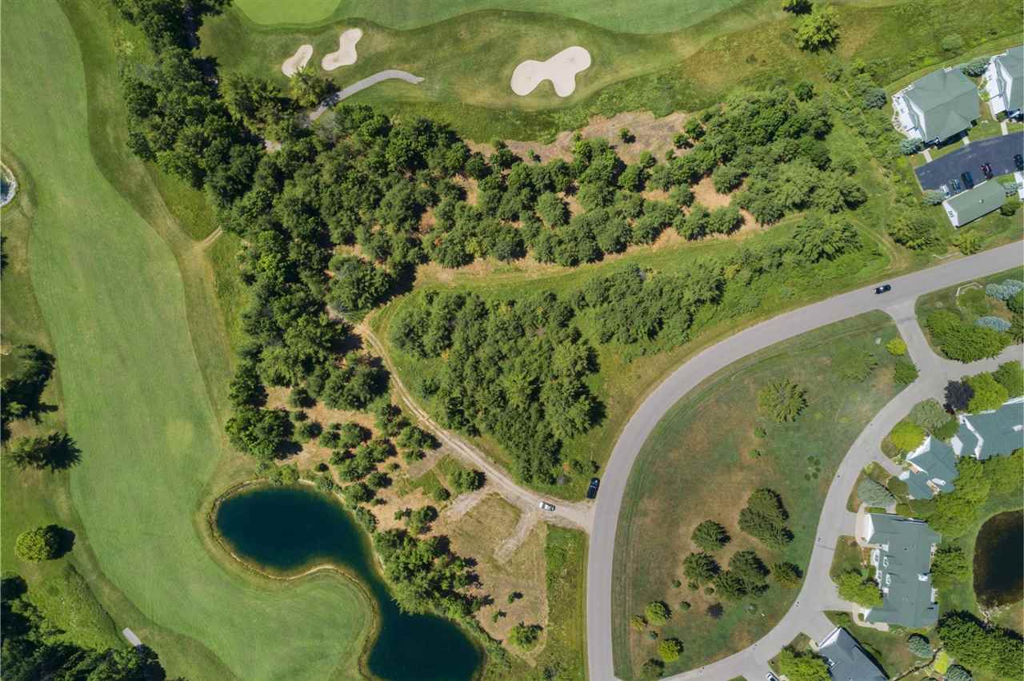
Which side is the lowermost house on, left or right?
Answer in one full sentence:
The lowermost house sits on the right side.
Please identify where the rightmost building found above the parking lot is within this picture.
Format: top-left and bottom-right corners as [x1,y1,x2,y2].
[980,42,1024,112]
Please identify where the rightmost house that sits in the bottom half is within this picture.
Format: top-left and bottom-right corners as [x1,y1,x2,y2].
[952,392,1024,461]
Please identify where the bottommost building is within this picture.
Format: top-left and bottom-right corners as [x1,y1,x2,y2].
[816,624,890,681]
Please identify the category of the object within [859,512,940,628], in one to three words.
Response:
house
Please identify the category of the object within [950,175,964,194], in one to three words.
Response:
car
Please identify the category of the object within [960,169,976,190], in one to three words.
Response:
vehicle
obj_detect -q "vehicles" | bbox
[539,500,555,511]
[873,284,891,294]
[960,169,976,190]
[586,476,600,500]
[950,175,964,194]
[939,181,953,199]
[1011,152,1024,171]
[980,161,994,180]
